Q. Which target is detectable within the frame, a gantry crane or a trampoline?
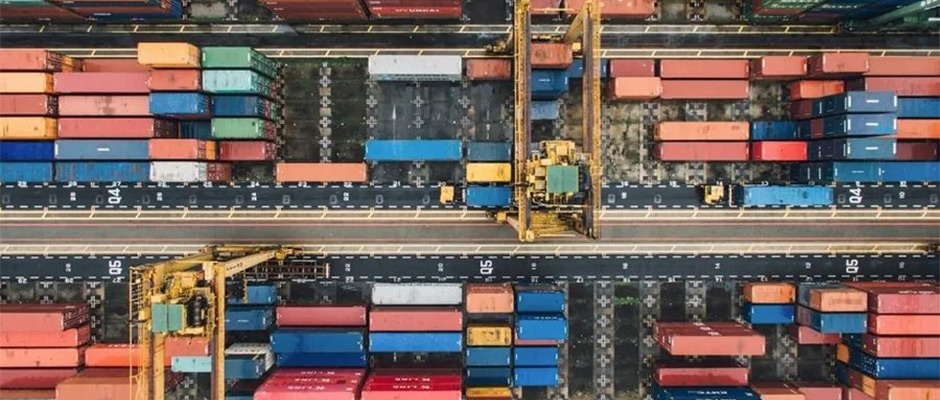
gantry crane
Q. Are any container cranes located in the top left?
No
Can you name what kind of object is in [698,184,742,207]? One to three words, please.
truck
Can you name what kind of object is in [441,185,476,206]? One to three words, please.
truck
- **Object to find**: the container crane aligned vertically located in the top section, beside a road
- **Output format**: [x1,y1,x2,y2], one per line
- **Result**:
[490,0,602,245]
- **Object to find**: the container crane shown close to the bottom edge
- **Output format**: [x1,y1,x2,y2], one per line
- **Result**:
[126,243,304,400]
